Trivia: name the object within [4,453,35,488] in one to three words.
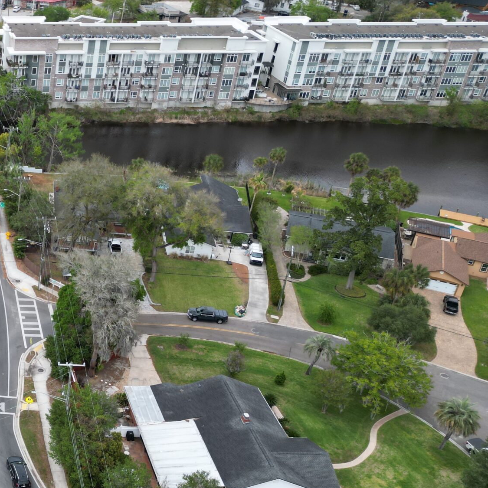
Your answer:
car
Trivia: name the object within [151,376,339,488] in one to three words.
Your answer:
house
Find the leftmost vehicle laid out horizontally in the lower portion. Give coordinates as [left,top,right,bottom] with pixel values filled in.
[187,308,230,325]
